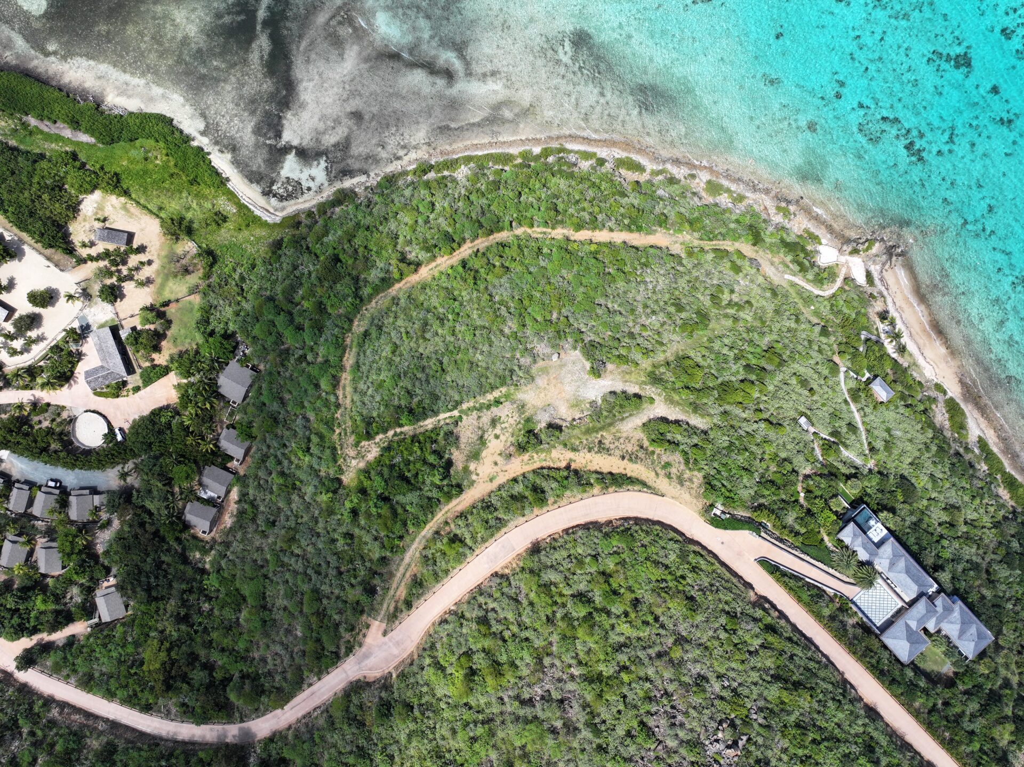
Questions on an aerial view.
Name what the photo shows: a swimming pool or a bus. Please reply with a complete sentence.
It is a swimming pool that can be seen here.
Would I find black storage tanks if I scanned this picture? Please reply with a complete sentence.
No, I find no black storage tank anywhere in the image.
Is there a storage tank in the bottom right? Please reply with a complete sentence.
No, no storage tank can be made out in the bottom right.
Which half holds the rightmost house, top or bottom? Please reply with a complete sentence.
The rightmost house sits in the bottom half of the picture.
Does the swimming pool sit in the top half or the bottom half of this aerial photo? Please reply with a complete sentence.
The swimming pool sits in the bottom half of the picture.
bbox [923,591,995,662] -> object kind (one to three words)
house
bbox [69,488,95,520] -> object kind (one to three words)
house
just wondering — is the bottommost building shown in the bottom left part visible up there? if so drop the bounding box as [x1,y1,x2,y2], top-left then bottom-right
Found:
[96,585,128,623]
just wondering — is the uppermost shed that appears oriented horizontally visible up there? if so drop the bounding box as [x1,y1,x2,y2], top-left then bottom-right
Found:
[94,228,131,246]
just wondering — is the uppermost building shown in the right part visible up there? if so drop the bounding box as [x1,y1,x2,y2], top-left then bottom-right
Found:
[867,377,895,402]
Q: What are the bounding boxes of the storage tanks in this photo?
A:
[71,411,113,449]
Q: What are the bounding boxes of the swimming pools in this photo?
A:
[851,504,898,546]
